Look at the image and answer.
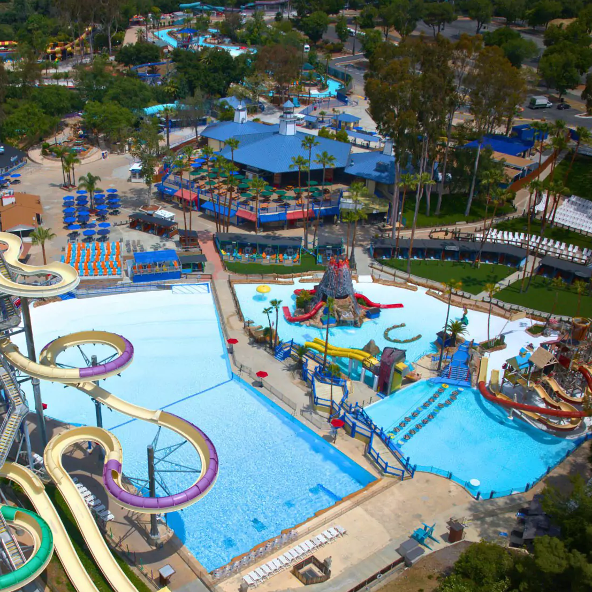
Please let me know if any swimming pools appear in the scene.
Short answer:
Yes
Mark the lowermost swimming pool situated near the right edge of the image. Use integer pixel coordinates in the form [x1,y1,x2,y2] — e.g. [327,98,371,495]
[365,380,592,497]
